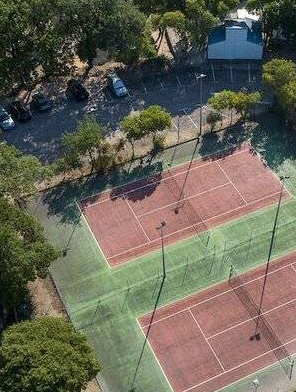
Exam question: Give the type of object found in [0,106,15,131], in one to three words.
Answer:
car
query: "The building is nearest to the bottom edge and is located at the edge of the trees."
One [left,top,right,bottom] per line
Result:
[208,18,264,59]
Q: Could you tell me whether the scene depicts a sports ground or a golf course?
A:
sports ground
